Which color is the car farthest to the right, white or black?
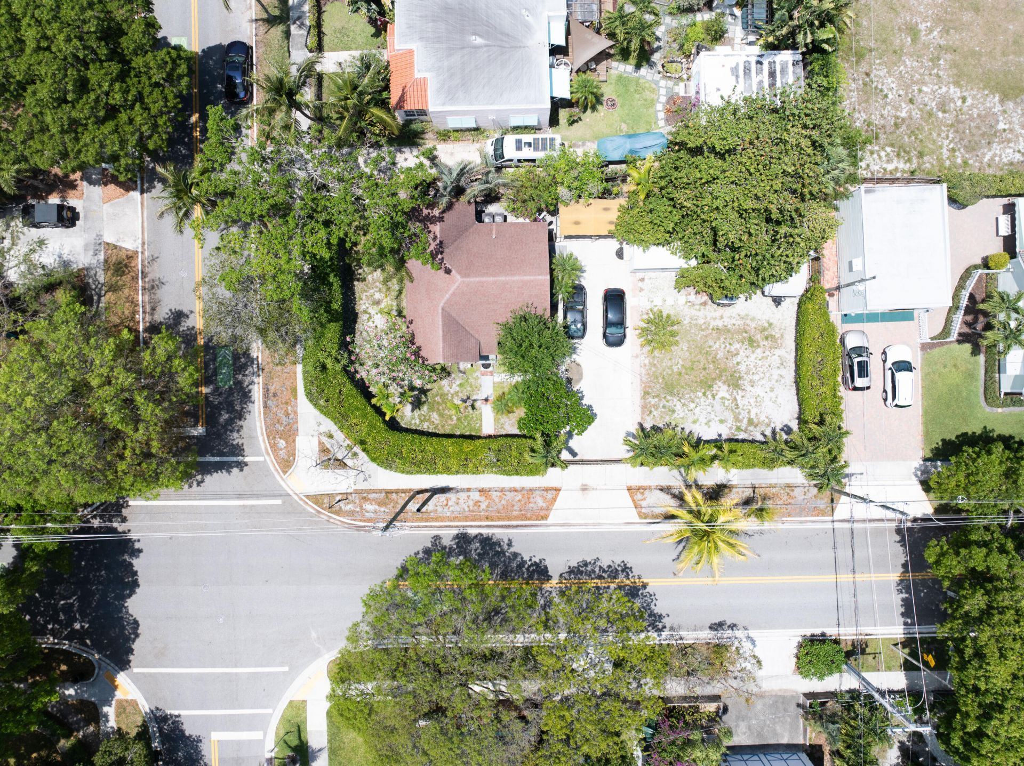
white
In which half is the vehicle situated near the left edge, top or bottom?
top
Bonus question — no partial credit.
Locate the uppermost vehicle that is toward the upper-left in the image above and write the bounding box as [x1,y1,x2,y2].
[222,42,254,104]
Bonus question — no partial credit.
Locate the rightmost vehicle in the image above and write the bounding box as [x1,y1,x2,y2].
[880,345,915,407]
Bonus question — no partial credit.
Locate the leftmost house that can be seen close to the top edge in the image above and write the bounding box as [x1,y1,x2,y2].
[387,0,570,139]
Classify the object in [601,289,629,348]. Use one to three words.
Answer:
car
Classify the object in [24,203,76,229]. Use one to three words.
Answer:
vehicle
